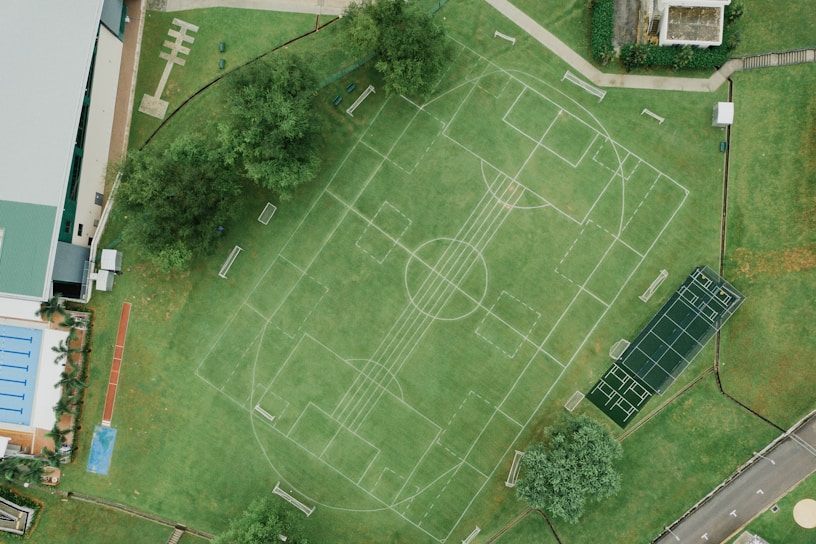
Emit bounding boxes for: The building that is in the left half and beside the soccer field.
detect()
[0,0,128,305]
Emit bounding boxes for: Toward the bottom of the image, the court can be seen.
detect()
[586,266,737,429]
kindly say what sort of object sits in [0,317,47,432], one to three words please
swimming pool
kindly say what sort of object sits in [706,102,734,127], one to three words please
shed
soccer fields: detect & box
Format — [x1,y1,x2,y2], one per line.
[197,29,689,541]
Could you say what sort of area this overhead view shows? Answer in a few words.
sports ground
